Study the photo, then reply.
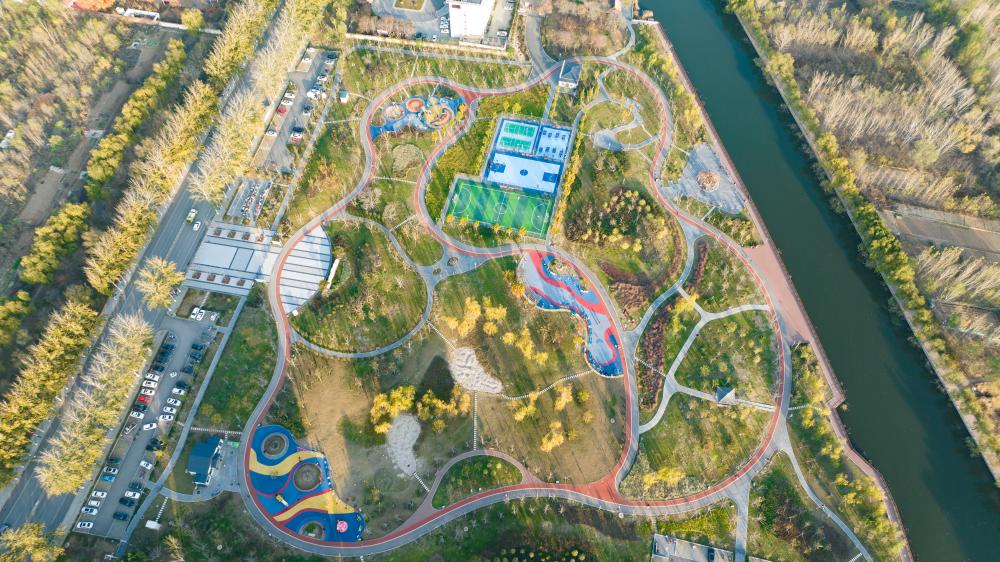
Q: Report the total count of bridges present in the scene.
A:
none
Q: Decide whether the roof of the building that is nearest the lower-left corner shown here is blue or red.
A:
blue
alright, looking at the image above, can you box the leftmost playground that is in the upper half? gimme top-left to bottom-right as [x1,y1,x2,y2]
[373,96,463,139]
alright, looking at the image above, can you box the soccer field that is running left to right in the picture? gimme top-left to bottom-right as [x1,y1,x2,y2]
[442,178,556,238]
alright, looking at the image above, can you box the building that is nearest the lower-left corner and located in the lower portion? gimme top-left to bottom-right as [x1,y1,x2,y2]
[188,435,226,487]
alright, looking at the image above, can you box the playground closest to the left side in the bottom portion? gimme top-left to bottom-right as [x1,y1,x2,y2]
[253,424,365,538]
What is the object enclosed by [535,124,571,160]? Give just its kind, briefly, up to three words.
tennis court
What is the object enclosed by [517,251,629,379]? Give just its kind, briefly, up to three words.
playground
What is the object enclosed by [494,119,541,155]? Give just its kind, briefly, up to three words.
sports court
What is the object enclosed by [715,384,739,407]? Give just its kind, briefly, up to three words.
building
